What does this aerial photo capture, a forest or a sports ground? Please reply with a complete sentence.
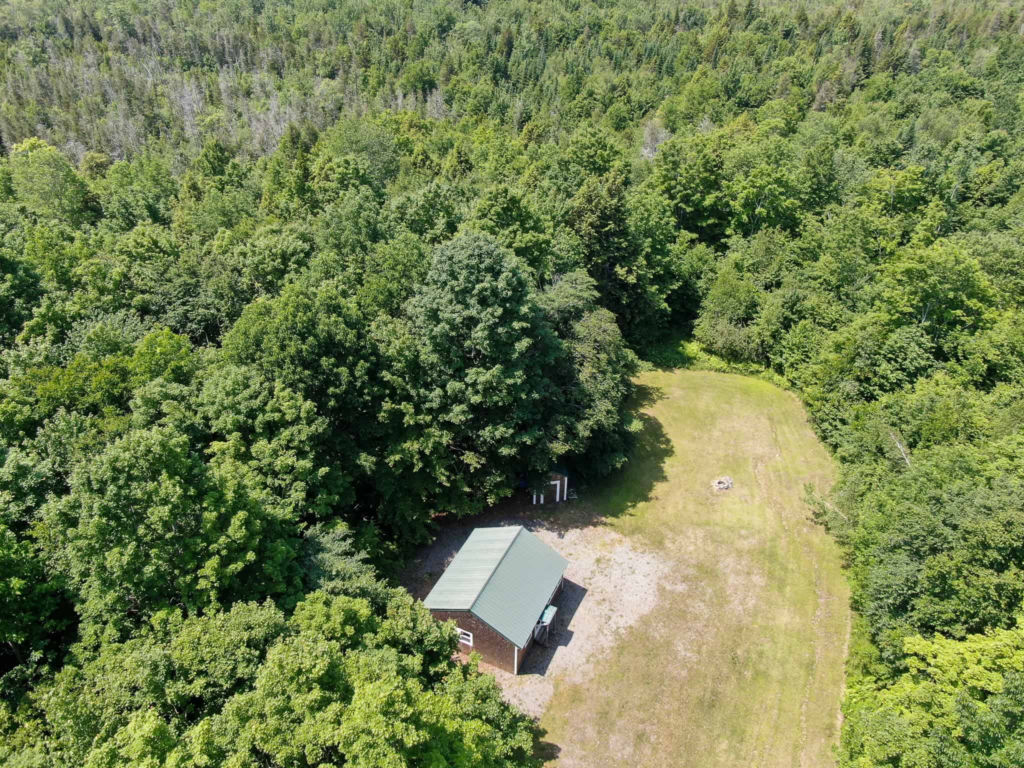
What you see here is a forest.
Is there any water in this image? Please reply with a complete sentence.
No, water can't be seen anywhere here.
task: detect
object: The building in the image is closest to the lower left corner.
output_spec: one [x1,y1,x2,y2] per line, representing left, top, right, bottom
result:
[422,525,569,675]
